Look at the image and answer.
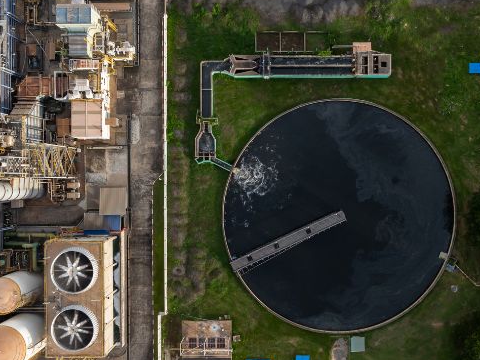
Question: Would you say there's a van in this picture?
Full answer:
No, no van is visible in the scene.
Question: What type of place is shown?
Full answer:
It's an industrial area.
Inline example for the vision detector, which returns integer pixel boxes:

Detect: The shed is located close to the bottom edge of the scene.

[180,316,233,360]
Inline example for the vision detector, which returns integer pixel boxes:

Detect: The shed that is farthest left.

[17,76,54,98]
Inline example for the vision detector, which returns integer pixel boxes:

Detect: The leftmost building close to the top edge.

[54,1,109,33]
